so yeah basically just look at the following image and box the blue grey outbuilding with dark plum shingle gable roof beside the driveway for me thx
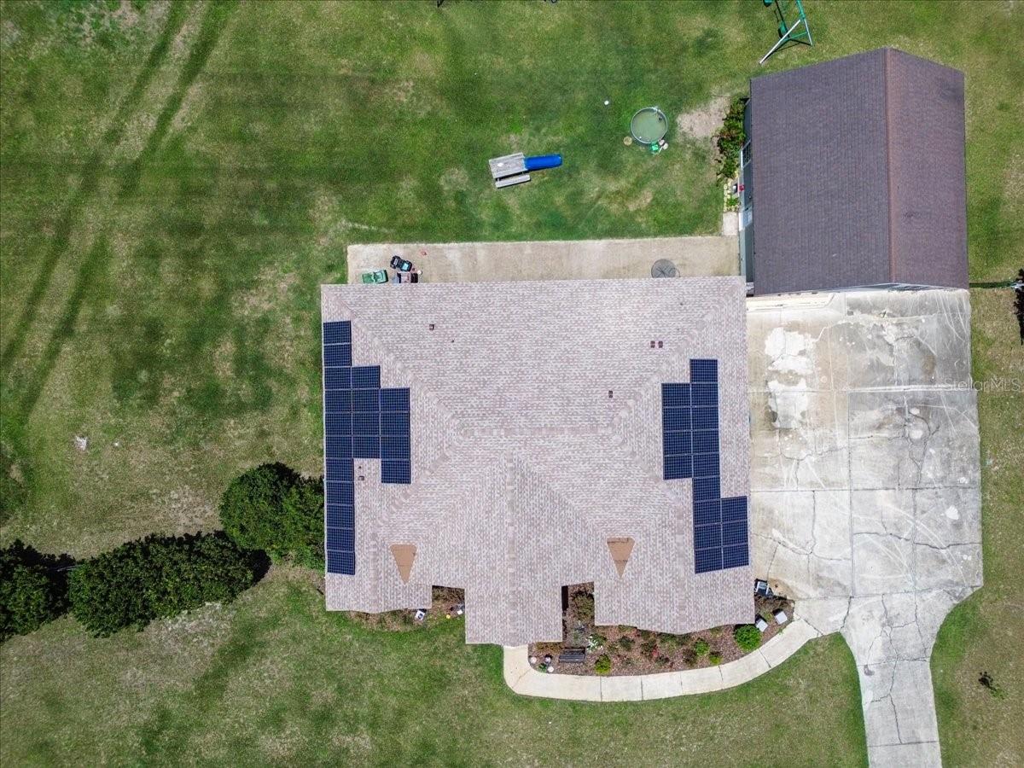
[737,46,969,296]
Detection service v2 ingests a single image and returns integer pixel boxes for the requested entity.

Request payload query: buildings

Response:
[737,46,969,296]
[319,277,753,651]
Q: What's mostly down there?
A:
grass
